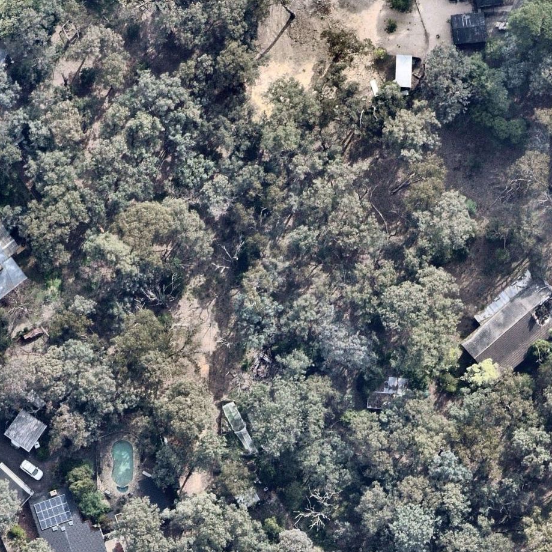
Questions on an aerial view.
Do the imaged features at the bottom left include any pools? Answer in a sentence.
Yes, a pool shows up at the bottom left.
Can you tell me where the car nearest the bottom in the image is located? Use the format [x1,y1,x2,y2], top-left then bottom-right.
[19,461,44,479]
